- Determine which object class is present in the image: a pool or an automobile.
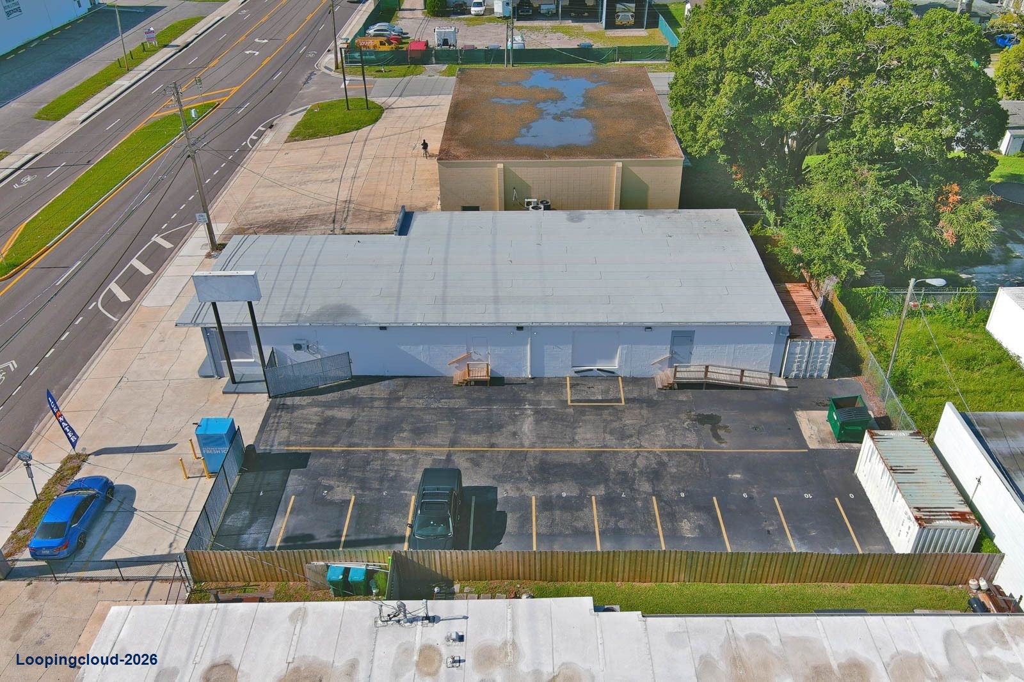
automobile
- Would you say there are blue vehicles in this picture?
Yes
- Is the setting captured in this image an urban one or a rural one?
urban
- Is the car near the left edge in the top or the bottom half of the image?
bottom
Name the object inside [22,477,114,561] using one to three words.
car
